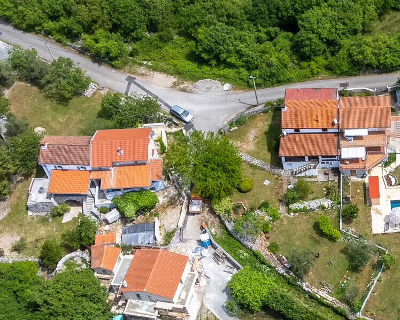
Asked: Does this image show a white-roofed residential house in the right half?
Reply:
No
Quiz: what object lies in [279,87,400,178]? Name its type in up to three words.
house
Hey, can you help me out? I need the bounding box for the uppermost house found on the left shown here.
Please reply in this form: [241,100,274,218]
[26,127,167,215]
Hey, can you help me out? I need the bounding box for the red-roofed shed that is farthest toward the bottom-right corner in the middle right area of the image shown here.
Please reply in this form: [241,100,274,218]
[367,176,380,207]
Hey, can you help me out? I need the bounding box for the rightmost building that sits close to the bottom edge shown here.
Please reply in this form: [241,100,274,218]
[110,248,204,320]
